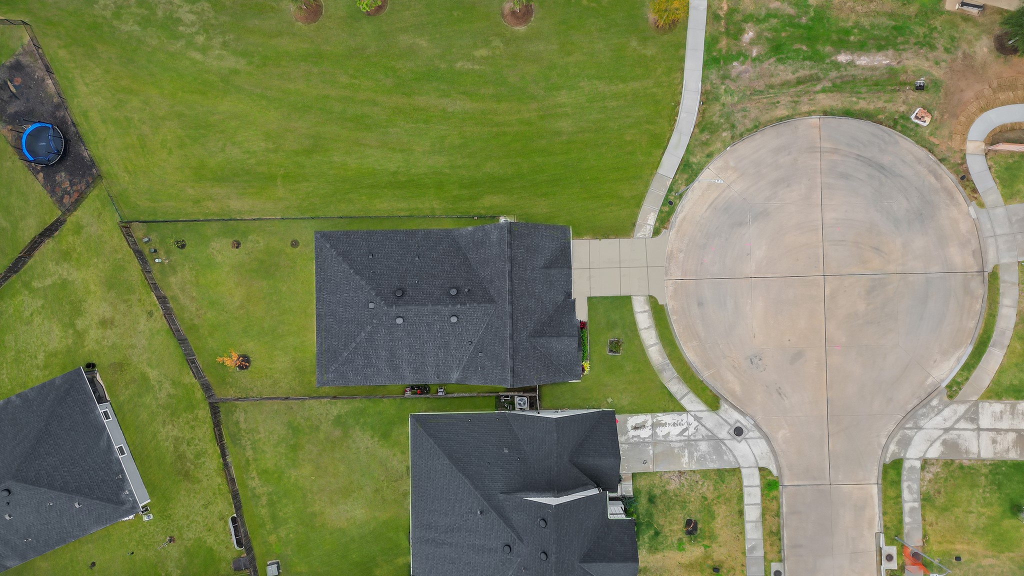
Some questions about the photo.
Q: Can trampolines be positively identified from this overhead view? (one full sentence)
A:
Yes, there is a trampoline in the image.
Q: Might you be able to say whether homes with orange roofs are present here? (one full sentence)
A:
No, no home with an orange roof can be seen from above.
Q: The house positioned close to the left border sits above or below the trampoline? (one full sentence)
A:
As seen from overhead, the house positioned close to the left border falls below the trampoline in the picture.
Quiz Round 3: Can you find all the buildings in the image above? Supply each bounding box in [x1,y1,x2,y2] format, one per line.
[408,406,639,576]
[314,223,582,391]
[0,366,162,576]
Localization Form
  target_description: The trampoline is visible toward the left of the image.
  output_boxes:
[6,117,71,168]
